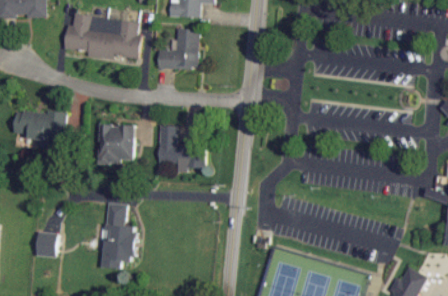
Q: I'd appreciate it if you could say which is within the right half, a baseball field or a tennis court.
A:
tennis court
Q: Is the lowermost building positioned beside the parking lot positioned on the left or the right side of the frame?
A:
right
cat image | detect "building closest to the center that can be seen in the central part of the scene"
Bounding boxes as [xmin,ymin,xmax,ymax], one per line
[159,126,206,174]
